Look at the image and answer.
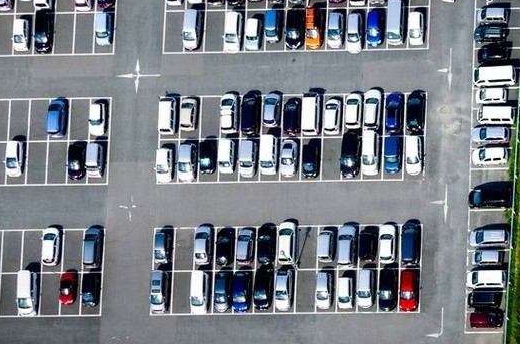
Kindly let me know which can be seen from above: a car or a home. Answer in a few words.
car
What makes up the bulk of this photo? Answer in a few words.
paved ground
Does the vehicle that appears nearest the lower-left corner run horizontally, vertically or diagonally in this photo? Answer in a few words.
vertically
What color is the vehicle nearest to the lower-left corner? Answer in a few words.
white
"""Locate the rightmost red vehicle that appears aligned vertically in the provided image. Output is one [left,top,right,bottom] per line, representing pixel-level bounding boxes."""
[399,271,418,312]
